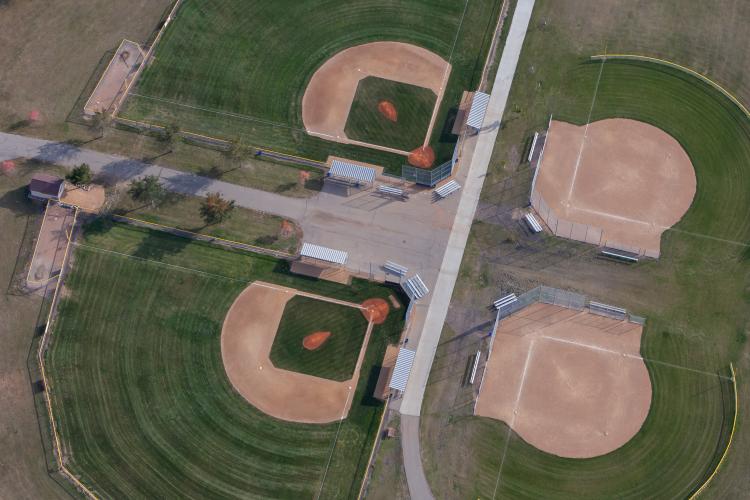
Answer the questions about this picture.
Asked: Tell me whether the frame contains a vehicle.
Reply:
No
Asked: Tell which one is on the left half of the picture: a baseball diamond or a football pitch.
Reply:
baseball diamond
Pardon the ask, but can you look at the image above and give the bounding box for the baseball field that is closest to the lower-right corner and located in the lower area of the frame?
[467,302,737,500]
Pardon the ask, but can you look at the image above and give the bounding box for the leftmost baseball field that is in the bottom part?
[40,213,410,500]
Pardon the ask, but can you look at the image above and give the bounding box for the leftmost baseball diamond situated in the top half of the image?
[116,0,503,184]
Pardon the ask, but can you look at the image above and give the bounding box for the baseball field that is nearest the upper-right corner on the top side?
[532,58,750,259]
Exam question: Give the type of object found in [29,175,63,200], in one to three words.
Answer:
shed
